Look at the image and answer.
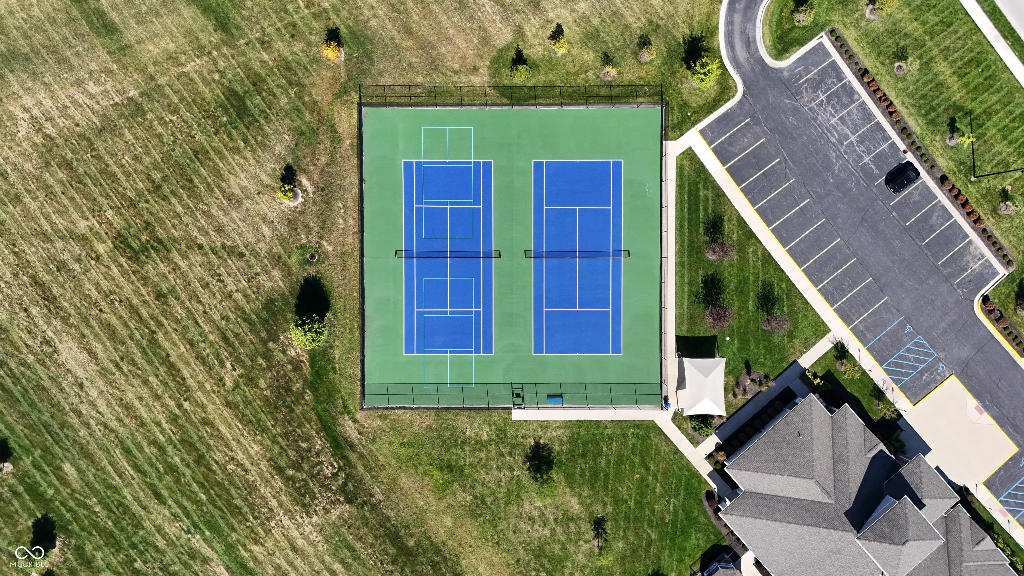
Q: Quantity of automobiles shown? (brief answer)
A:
1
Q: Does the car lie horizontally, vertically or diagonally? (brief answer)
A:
diagonally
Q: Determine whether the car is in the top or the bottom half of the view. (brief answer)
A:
top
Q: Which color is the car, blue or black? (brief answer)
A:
black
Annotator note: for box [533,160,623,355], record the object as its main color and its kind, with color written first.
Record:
blue tennis court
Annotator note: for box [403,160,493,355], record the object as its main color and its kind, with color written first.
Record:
blue tennis court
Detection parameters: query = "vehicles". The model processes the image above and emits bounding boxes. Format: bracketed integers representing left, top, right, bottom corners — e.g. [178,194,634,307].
[885,165,922,196]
